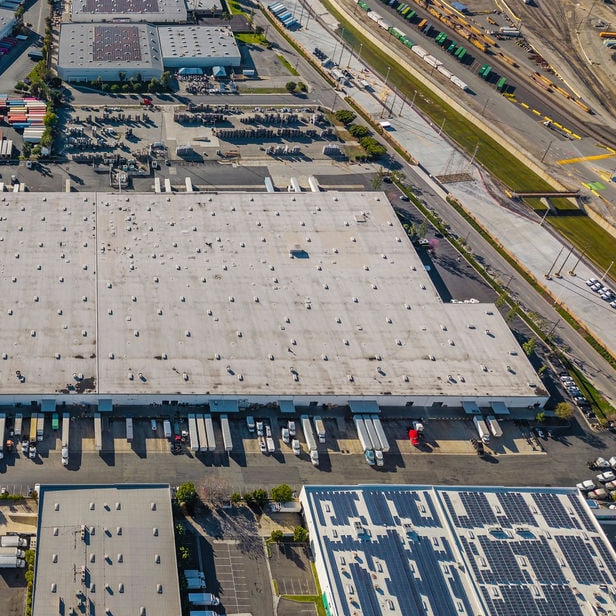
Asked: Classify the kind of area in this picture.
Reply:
industrial area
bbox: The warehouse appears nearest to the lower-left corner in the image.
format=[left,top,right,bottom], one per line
[31,483,182,616]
